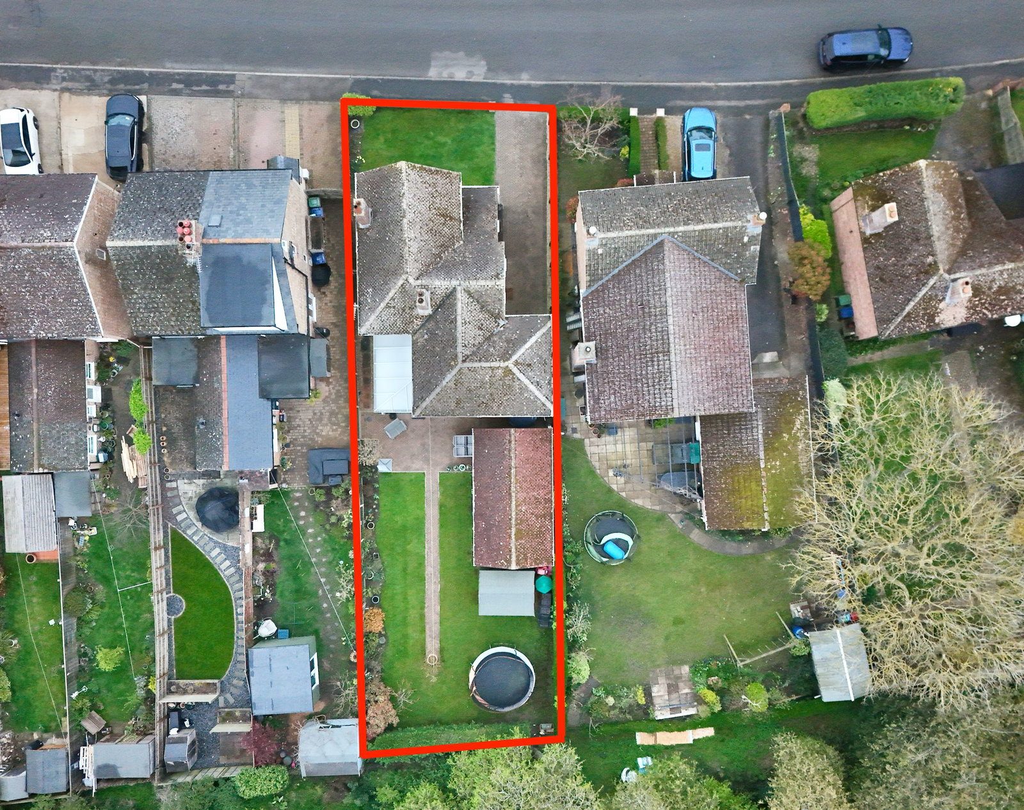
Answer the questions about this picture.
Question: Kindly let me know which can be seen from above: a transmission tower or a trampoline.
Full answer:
There is a trampoline in the scene.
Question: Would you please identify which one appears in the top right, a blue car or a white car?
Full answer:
Visible in the top right is a blue car.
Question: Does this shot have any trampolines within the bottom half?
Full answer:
Yes, a trampoline appears within the bottom half.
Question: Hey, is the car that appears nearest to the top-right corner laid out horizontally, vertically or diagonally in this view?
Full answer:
In this picture, the car that appears nearest to the top-right corner lies horizontally.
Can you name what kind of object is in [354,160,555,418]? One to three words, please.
house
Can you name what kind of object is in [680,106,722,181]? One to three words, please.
car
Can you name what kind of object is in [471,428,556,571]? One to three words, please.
building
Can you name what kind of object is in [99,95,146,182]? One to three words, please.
car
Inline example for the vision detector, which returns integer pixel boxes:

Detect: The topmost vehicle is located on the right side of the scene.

[815,24,908,75]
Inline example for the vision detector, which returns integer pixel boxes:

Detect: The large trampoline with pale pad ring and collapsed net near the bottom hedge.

[468,646,533,711]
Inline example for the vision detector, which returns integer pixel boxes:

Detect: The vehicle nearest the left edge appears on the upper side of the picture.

[0,107,44,172]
